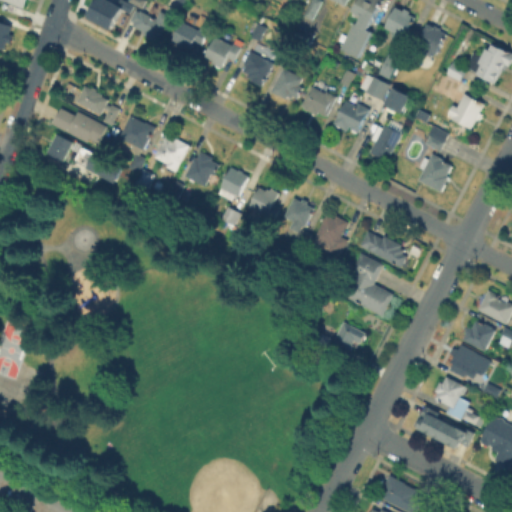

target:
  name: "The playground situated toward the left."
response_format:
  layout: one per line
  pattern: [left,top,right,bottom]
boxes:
[73,268,120,317]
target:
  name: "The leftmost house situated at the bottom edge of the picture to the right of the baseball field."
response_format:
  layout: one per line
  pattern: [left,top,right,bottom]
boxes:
[382,476,420,512]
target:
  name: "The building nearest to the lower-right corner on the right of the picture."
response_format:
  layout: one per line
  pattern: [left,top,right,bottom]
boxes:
[482,418,512,465]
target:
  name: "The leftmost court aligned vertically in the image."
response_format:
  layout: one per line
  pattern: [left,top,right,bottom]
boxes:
[0,324,25,378]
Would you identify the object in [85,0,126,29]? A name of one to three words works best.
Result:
house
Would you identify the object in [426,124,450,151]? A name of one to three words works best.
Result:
building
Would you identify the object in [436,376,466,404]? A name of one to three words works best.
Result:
house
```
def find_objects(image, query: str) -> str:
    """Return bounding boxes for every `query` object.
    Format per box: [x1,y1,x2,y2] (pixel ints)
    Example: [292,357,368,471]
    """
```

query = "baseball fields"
[190,456,279,512]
